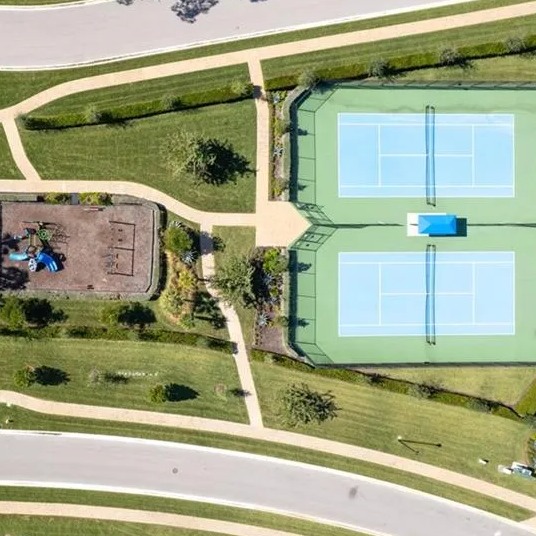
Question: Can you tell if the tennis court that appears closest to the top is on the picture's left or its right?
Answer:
right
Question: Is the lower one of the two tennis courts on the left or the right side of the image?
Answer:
right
